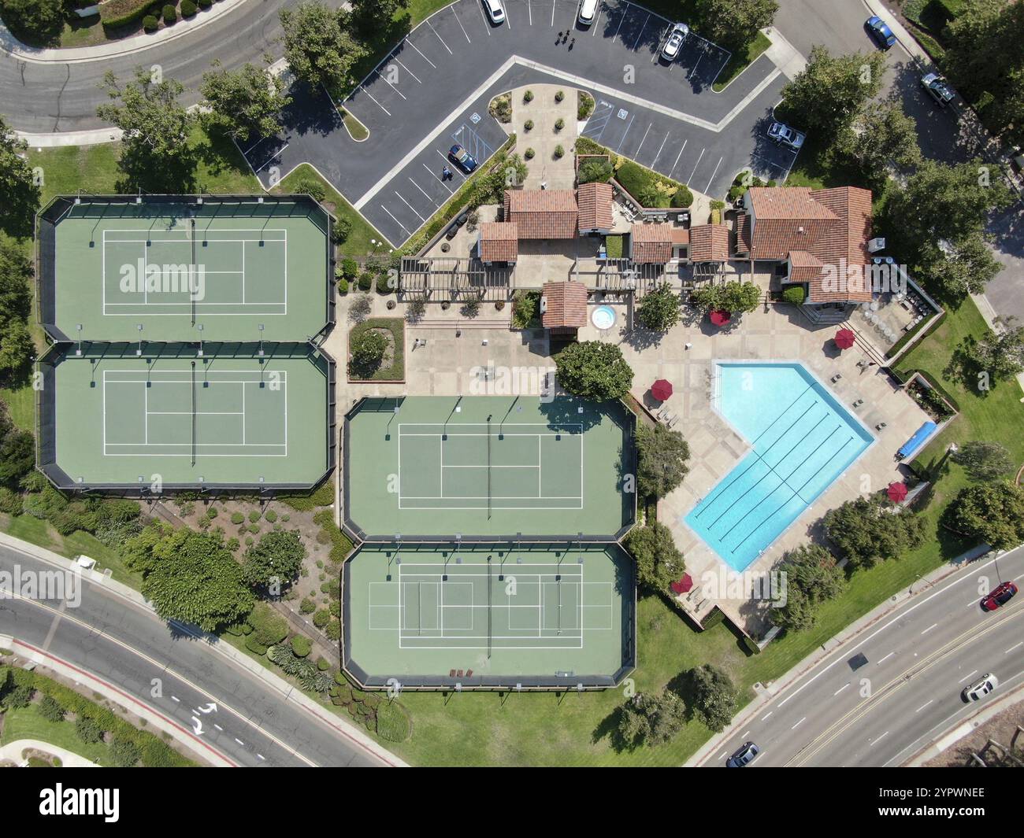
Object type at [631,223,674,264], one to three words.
shed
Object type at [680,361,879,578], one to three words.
swimming pool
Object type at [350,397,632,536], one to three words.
tennis court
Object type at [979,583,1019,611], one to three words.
car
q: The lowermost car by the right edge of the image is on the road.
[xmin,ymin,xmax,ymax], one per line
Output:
[961,673,1000,702]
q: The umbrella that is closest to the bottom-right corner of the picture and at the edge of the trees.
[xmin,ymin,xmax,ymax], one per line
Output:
[885,482,906,502]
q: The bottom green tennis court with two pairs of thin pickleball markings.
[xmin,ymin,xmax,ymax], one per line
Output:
[350,541,632,676]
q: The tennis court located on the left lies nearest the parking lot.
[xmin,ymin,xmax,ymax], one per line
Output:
[55,202,330,342]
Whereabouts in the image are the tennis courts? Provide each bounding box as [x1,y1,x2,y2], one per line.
[350,397,632,536]
[55,343,334,484]
[350,541,632,676]
[55,202,330,342]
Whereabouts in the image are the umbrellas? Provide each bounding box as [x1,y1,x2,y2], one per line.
[885,482,906,502]
[832,328,853,349]
[670,572,692,593]
[651,379,671,400]
[708,309,729,327]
